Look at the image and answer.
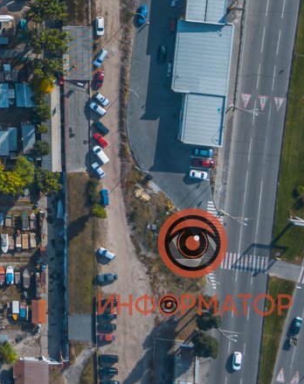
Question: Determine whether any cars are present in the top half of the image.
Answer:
Yes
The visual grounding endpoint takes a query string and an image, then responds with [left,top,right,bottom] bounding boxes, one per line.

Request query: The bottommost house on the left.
[9,353,49,384]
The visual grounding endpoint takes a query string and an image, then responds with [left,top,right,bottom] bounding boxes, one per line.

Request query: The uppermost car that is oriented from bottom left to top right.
[92,49,107,67]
